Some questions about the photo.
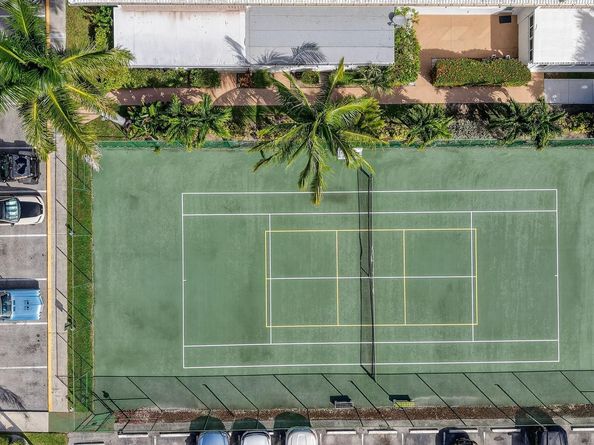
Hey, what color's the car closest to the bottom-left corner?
blue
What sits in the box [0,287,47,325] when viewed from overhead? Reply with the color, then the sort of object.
blue car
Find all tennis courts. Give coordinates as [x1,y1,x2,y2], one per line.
[94,145,594,411]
